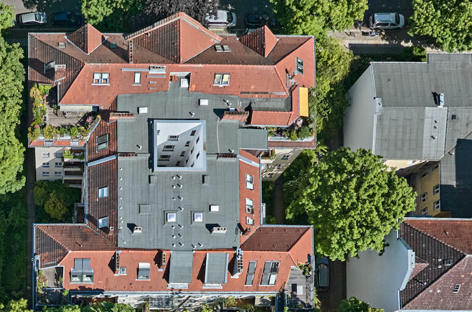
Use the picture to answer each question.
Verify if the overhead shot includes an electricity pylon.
No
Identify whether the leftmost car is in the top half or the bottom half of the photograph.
top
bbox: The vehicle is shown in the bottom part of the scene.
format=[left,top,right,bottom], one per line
[315,256,333,294]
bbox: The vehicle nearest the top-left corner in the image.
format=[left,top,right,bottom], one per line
[16,8,48,28]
